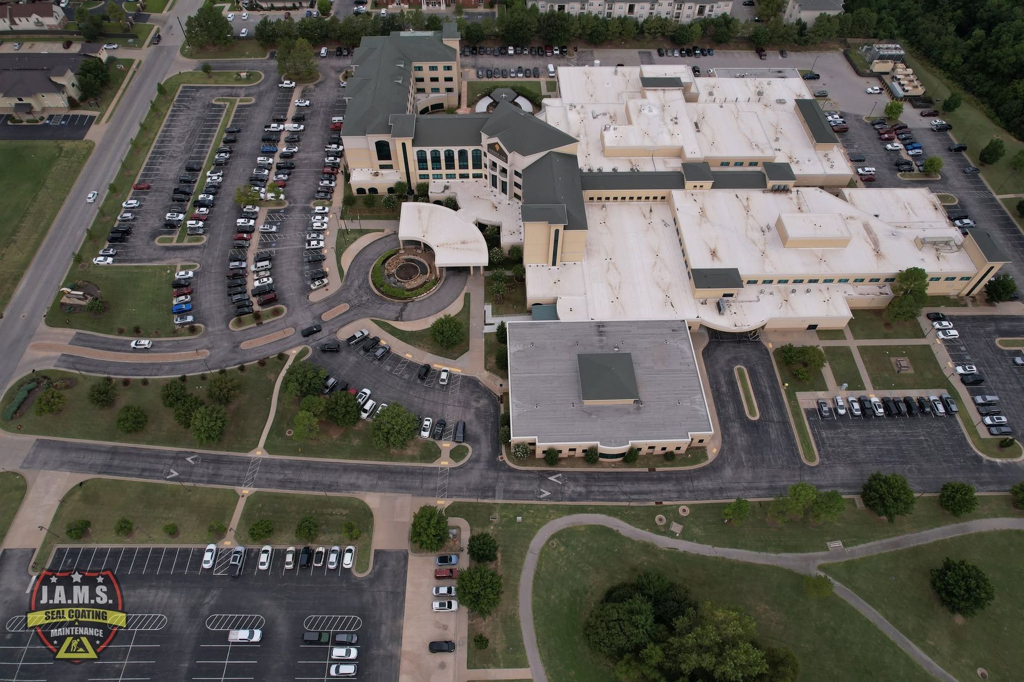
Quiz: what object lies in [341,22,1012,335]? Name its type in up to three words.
building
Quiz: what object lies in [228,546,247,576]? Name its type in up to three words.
vehicle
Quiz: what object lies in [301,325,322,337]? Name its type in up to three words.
vehicle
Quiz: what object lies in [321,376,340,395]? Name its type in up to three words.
car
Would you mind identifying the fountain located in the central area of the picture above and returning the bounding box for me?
[385,256,435,301]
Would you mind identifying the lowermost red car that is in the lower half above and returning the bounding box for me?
[434,567,460,581]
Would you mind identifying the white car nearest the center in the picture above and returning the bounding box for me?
[438,368,450,386]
